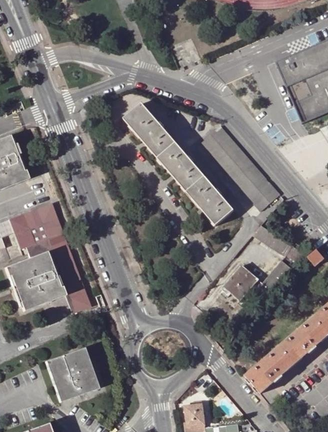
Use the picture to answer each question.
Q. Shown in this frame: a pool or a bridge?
pool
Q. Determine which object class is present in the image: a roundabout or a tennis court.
roundabout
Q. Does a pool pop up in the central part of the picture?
No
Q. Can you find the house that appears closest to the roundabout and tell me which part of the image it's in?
bottom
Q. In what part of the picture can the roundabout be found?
bottom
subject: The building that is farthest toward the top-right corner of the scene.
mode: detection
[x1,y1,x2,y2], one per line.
[276,43,328,124]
